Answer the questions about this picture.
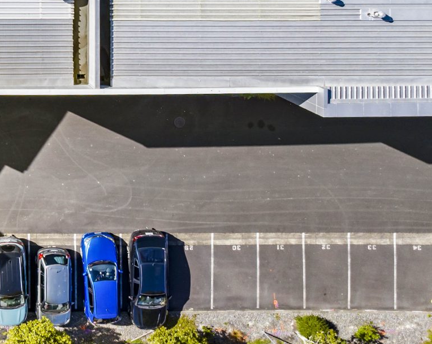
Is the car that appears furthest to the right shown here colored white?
No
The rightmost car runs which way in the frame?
from top to bottom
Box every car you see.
[34,244,77,326]
[127,226,175,326]
[79,229,126,324]
[0,233,33,324]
